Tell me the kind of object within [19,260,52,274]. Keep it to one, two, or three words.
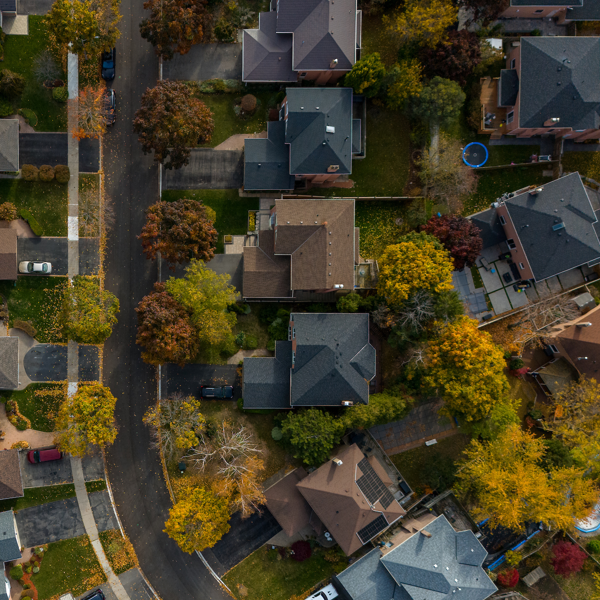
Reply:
car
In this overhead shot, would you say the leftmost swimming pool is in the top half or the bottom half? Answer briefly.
bottom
